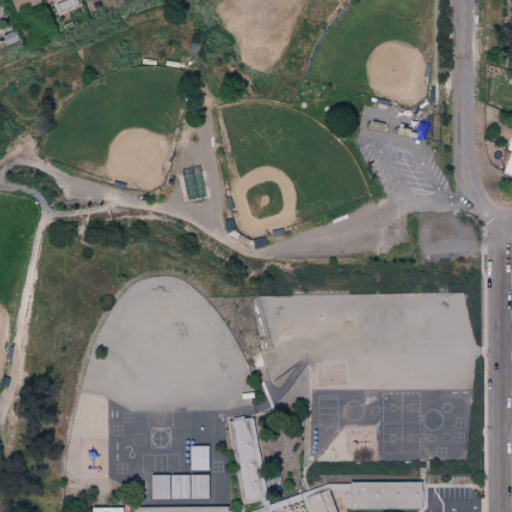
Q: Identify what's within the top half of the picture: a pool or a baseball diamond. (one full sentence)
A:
Looking within the top half of the picture, you will find a baseball diamond.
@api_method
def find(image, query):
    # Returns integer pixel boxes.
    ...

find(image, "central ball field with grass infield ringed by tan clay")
[218,102,369,238]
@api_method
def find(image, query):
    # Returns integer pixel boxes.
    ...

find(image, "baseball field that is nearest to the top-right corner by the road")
[306,0,434,110]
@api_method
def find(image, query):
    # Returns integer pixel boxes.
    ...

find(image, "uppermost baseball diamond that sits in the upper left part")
[43,67,190,193]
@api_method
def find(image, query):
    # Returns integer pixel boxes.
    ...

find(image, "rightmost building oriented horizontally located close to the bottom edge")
[352,482,423,510]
